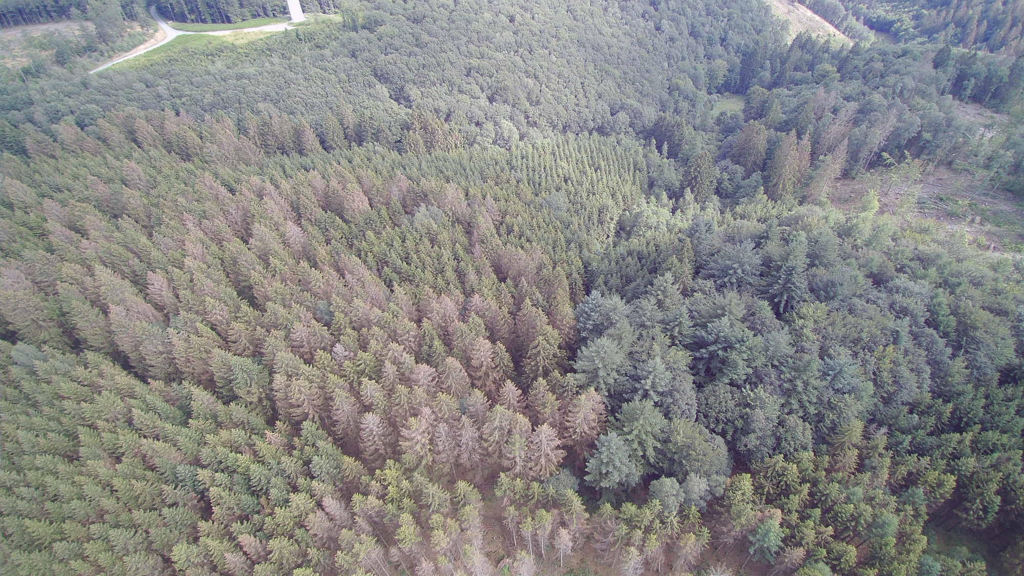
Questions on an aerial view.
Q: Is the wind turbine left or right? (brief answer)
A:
left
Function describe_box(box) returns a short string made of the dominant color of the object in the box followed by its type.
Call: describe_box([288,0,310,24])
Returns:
white wind turbine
